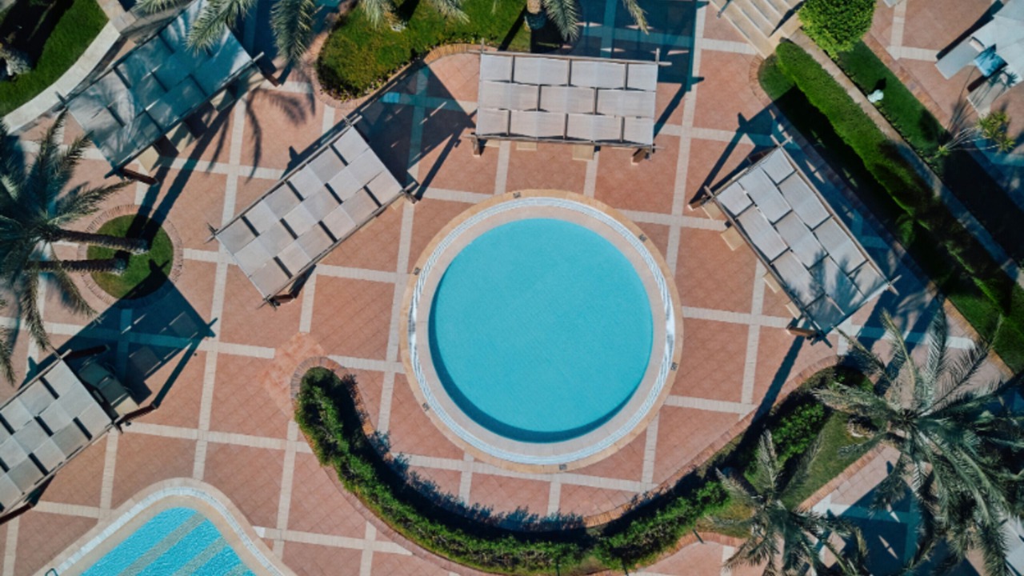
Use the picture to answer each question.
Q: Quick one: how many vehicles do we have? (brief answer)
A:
zero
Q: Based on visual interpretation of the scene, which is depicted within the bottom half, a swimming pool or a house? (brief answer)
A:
swimming pool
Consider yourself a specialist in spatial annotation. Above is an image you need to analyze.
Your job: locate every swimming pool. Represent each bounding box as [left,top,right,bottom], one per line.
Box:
[400,190,683,473]
[28,478,301,576]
